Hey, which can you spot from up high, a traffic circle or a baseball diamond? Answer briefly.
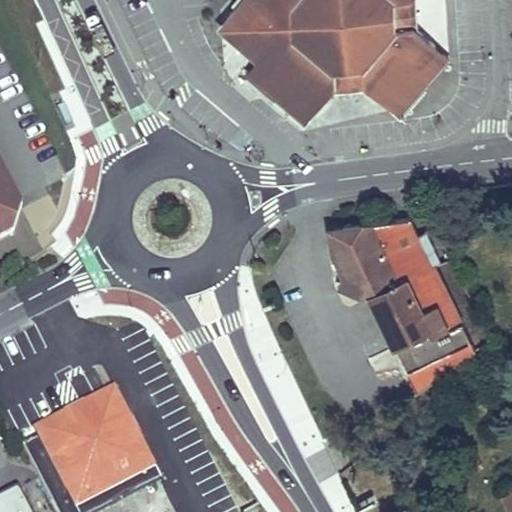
traffic circle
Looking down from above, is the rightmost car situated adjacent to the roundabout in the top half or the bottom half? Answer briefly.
top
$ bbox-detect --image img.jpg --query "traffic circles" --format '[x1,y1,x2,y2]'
[78,125,296,325]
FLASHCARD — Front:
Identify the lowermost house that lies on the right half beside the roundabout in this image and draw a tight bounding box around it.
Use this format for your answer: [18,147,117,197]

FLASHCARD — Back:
[327,222,476,394]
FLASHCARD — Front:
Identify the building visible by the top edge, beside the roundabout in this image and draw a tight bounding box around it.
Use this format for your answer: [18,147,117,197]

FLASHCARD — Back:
[218,0,450,126]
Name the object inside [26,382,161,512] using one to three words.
building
